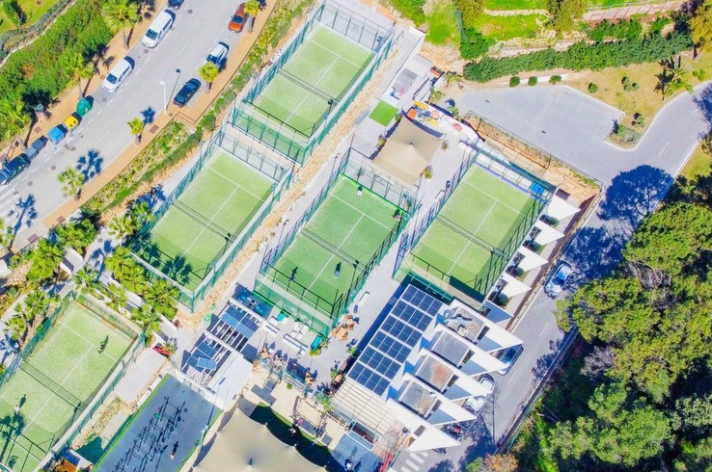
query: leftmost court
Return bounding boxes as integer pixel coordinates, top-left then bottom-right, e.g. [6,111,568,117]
[0,286,149,472]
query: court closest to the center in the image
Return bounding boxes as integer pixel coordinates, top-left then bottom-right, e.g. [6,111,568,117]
[250,155,423,338]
